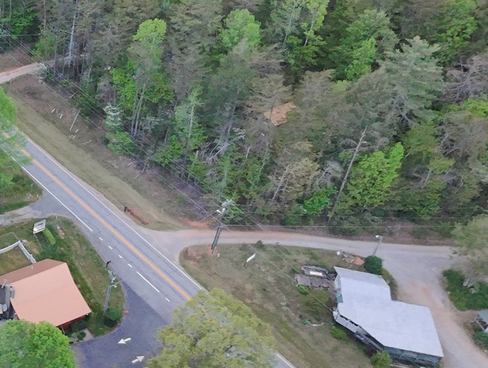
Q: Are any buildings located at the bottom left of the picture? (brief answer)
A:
Yes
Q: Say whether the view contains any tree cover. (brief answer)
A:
Yes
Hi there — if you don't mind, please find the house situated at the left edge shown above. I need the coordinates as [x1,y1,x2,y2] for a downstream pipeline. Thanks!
[0,261,91,337]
